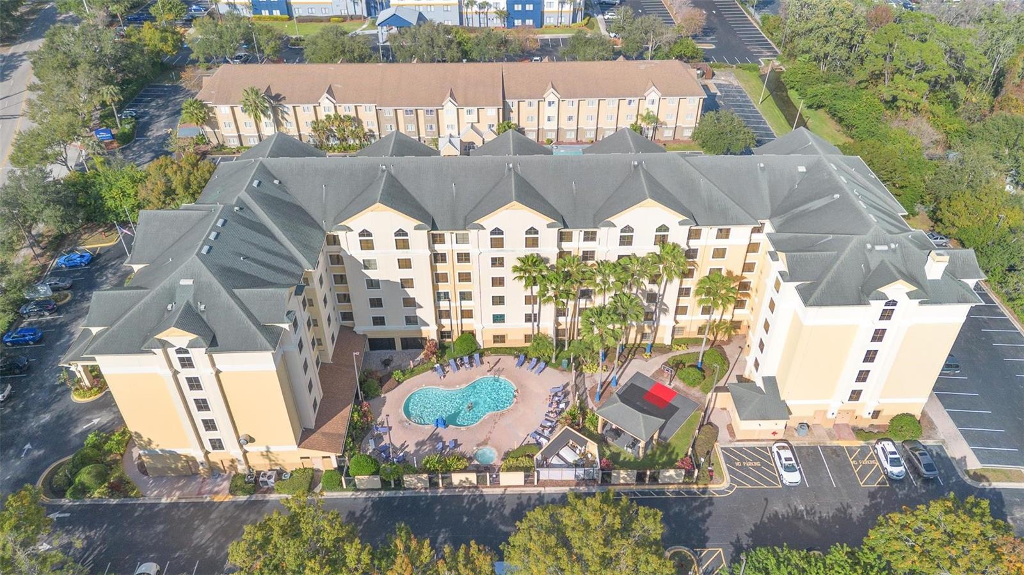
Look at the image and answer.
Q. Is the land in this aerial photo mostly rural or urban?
urban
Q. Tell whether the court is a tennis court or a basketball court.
basketball court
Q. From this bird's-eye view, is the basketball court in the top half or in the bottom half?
bottom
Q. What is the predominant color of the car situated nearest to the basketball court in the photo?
white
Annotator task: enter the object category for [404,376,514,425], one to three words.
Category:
swimming pool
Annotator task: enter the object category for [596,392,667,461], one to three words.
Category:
building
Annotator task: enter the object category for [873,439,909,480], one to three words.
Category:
car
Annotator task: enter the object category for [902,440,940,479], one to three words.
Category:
car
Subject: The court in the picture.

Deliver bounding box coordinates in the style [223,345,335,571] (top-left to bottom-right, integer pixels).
[606,371,697,447]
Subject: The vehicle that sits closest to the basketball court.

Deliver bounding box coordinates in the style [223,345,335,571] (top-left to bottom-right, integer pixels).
[770,443,802,484]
